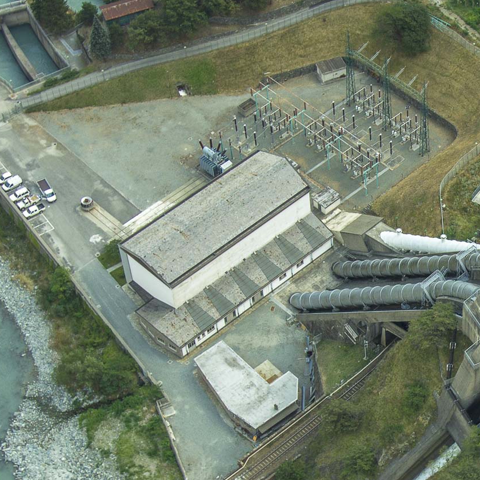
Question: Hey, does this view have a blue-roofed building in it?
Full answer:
No, there's no blue-roofed building here.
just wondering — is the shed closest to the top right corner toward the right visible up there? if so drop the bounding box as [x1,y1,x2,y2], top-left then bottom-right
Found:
[316,57,345,81]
